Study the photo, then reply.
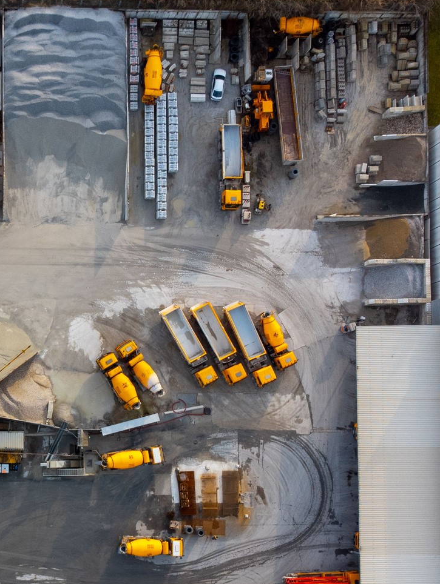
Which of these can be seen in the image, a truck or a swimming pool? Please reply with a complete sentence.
It is a truck that can be seen here.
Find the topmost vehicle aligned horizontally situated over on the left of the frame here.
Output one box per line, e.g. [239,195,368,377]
[96,441,167,469]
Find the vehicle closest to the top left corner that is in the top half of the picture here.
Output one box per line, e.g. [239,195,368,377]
[139,40,164,111]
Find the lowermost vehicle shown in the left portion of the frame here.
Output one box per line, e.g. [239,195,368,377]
[114,535,185,559]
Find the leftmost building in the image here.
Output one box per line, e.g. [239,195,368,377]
[0,432,24,450]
